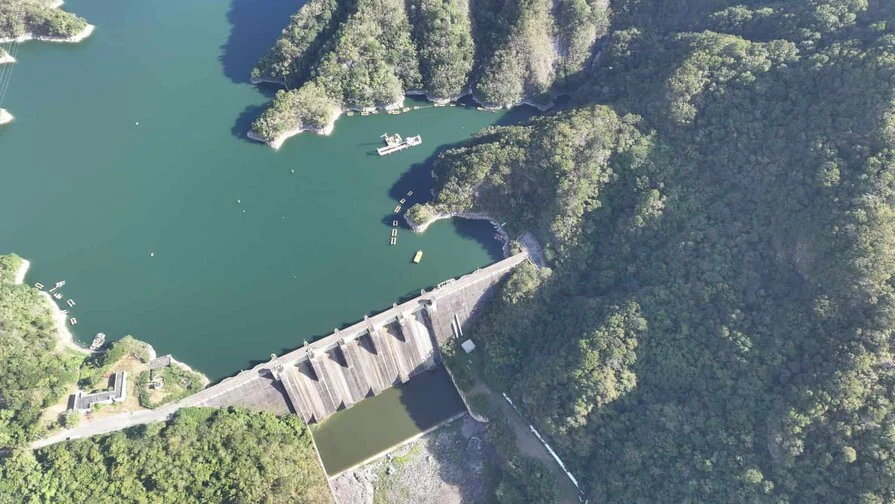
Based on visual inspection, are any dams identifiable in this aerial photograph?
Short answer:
Yes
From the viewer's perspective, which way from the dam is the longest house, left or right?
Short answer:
on the left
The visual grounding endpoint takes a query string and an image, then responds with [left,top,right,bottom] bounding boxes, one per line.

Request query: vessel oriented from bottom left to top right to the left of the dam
[89,332,106,352]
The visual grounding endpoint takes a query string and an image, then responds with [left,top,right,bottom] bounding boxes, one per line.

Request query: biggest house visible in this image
[70,370,128,413]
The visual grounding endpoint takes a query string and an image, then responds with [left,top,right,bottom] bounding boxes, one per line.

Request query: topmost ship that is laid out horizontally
[378,136,421,156]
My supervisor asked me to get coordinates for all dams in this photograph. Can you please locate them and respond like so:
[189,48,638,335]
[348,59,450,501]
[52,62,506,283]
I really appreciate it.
[195,251,528,501]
